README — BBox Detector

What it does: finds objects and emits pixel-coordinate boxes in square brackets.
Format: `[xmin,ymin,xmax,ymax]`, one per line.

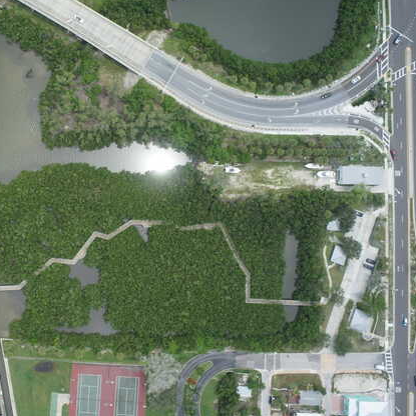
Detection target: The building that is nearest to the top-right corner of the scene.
[332,165,384,186]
